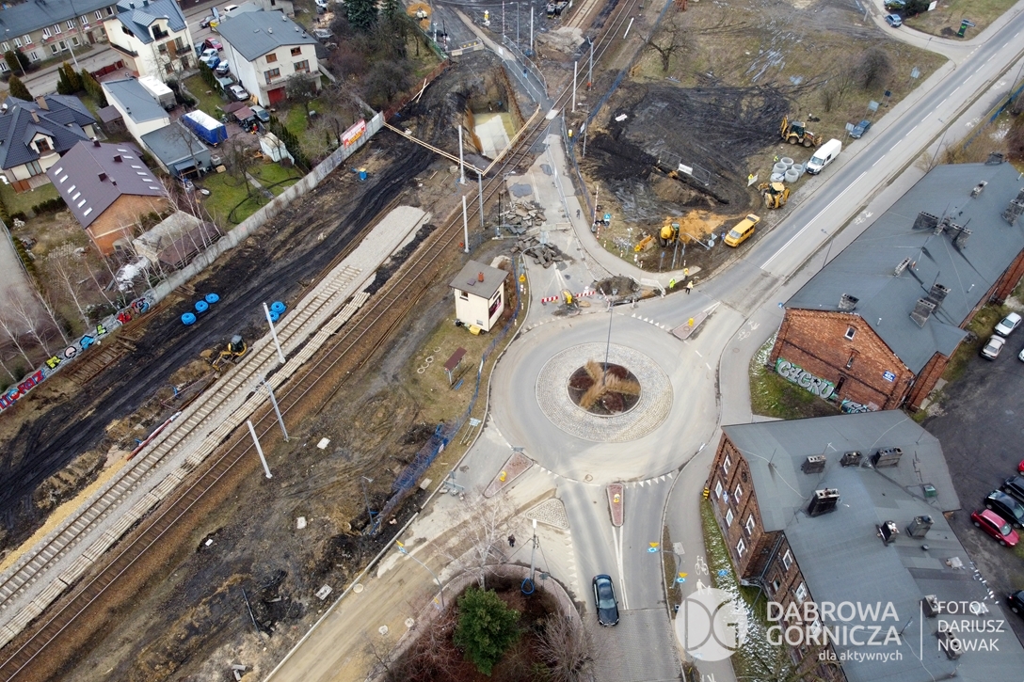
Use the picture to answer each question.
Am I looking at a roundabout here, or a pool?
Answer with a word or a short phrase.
roundabout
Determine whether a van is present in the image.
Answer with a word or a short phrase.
Yes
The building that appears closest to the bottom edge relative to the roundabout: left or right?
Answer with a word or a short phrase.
to its right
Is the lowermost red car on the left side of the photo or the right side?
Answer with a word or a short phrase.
right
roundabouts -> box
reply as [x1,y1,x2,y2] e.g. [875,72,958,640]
[489,312,722,482]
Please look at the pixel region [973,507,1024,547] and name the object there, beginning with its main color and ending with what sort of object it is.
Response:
red car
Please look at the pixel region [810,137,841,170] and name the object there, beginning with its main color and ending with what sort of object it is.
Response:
white van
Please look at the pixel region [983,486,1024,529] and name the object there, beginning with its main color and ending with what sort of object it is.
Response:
black car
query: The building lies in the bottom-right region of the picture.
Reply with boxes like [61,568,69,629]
[699,407,1024,682]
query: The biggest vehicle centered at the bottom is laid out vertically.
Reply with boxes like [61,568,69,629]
[593,572,621,626]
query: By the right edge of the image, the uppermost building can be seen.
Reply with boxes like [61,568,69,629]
[768,150,1024,413]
